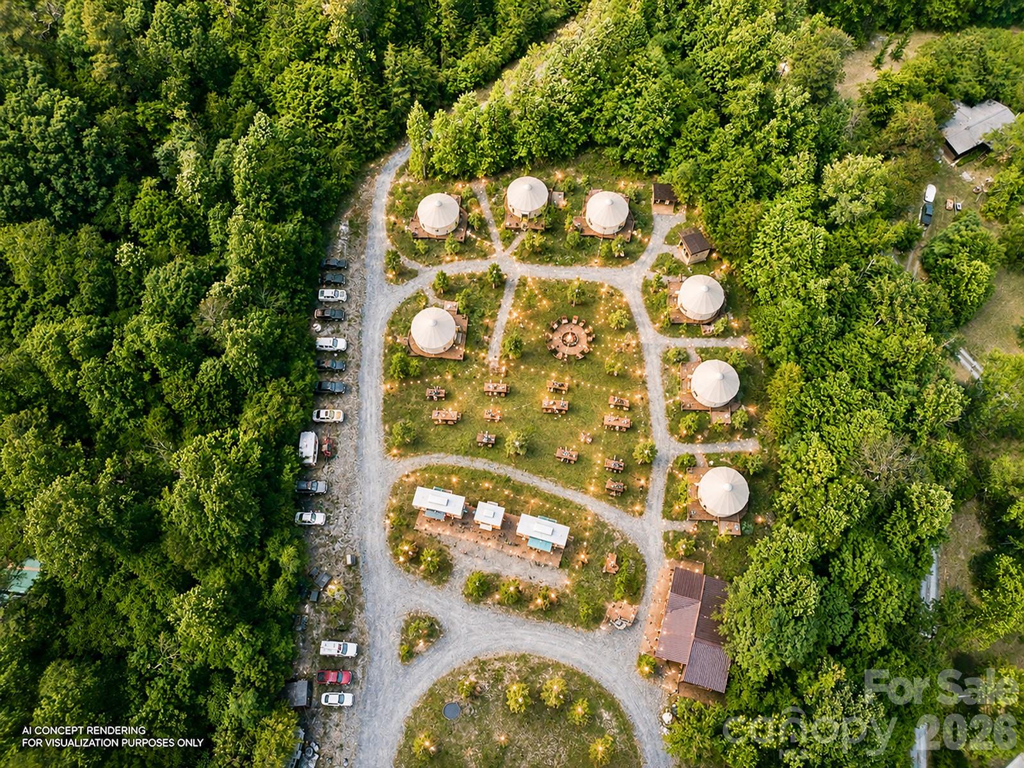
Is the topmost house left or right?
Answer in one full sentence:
The topmost house appears in the right half of the scene.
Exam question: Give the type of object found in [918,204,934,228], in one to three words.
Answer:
vehicle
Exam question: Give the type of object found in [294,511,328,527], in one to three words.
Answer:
car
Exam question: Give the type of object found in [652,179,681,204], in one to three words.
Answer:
shed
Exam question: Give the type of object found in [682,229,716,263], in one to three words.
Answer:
shed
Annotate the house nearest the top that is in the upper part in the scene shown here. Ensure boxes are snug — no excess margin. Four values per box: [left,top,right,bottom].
[945,99,1015,162]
